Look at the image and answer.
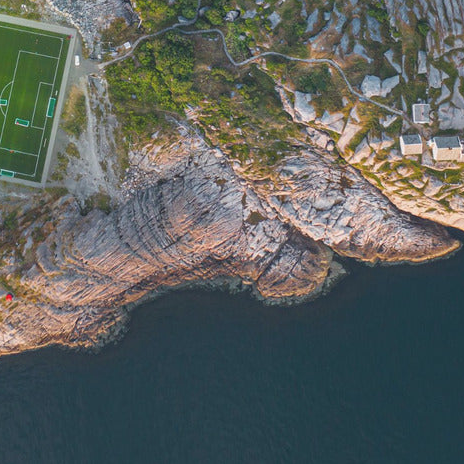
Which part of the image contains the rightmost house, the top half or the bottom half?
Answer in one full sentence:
The rightmost house is in the top half of the image.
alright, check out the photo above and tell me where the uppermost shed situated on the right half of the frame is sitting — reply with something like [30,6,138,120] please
[410,104,430,123]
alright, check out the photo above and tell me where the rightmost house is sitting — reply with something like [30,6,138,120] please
[428,137,464,160]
